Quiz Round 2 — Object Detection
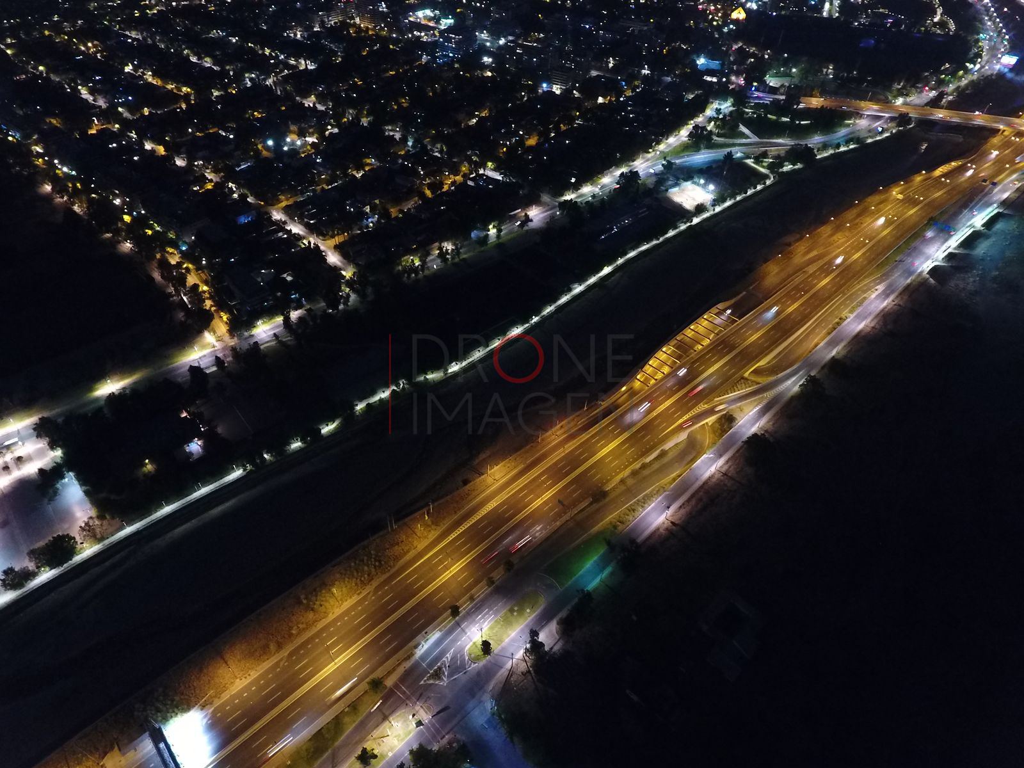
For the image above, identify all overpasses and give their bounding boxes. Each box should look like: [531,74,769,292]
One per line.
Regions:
[733,91,1024,138]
